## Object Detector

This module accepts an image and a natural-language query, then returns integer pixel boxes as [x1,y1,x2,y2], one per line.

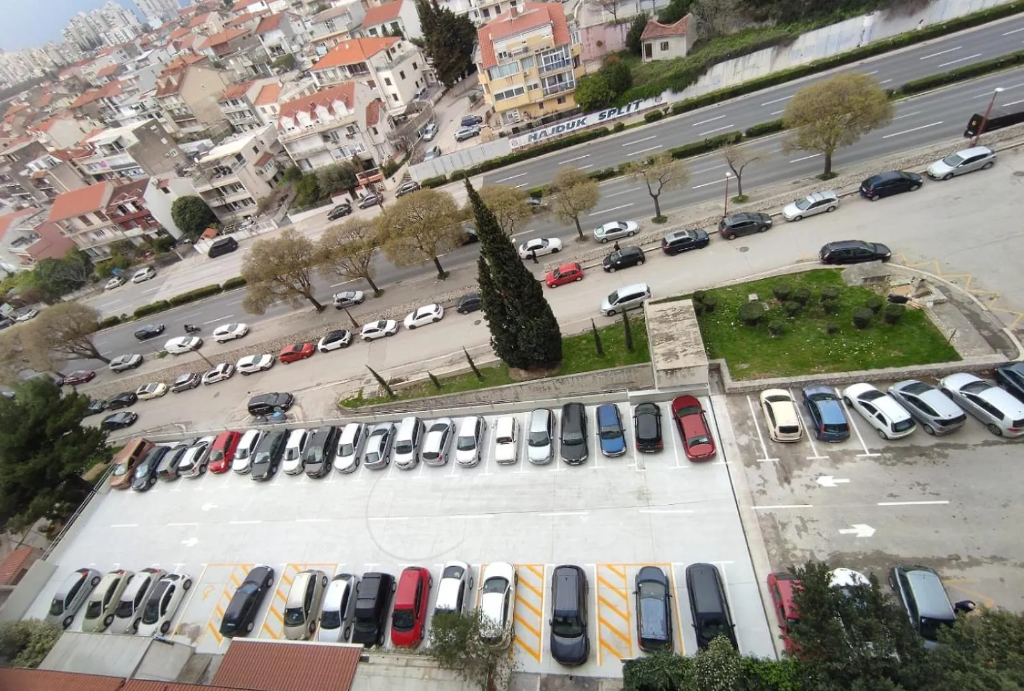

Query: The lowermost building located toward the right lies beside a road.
[644,299,709,384]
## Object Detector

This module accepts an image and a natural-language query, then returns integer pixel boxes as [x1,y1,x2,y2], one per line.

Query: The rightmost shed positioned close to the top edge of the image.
[639,6,701,64]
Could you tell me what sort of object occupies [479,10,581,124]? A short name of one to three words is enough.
house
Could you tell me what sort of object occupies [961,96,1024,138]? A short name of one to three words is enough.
bus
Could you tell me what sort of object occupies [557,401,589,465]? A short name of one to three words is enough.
car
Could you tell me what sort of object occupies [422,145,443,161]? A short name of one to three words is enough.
car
